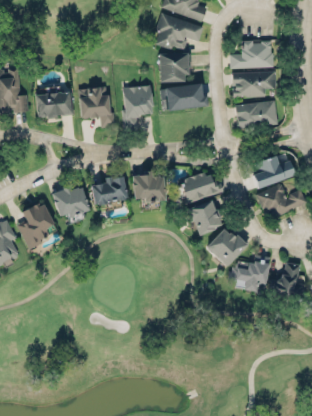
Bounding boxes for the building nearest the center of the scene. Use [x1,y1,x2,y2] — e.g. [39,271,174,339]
[134,175,167,201]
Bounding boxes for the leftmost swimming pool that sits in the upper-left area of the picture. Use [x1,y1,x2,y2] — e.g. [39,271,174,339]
[38,69,66,86]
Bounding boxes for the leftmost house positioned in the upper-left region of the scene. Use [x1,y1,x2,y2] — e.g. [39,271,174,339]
[0,66,28,114]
